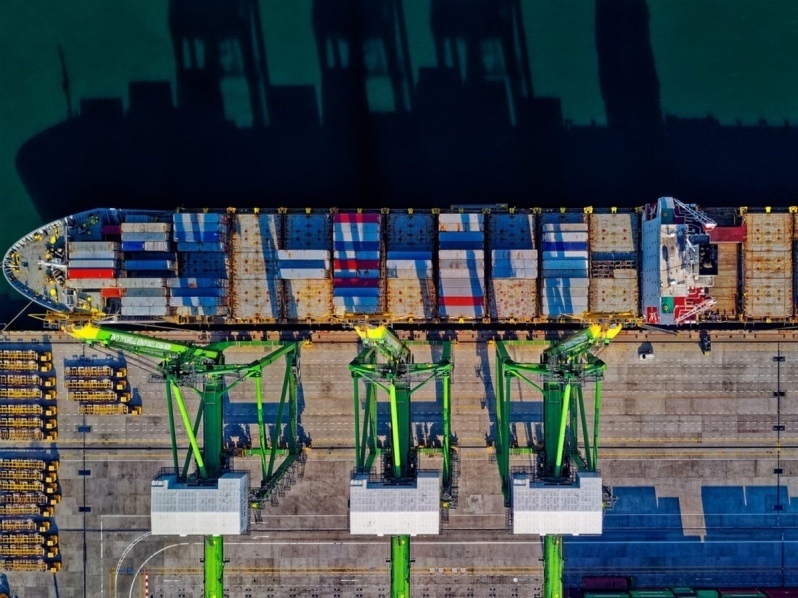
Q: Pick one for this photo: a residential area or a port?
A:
port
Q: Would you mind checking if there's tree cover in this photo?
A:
No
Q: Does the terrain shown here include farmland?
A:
No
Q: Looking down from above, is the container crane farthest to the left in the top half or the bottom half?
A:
bottom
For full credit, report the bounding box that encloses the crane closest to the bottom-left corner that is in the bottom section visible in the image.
[30,311,318,598]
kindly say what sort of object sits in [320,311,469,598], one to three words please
container crane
